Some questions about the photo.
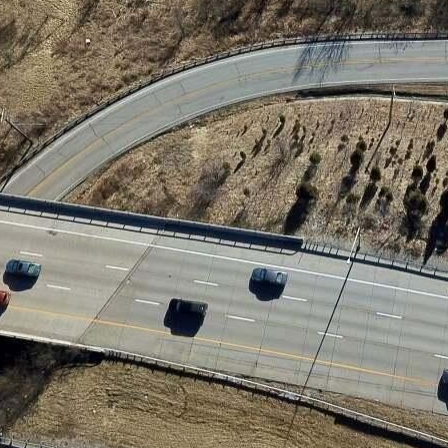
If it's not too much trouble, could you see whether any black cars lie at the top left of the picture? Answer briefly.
No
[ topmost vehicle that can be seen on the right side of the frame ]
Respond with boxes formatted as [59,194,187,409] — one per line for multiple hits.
[249,271,289,291]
